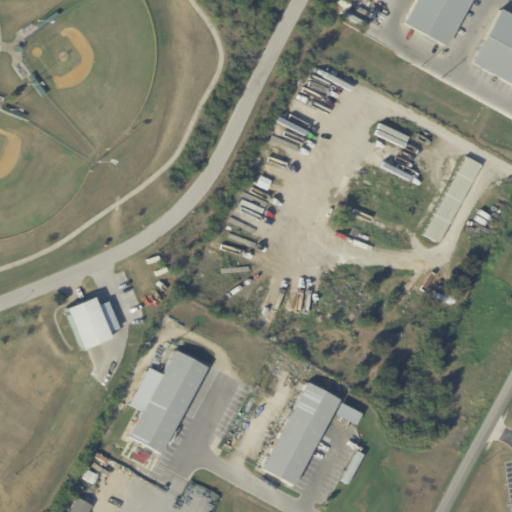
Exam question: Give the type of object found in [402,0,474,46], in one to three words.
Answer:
building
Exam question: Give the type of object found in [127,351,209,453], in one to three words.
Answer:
building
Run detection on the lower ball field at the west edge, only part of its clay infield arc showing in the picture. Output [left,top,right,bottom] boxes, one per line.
[0,119,90,238]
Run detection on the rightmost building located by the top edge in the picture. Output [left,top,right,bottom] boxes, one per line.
[470,10,512,86]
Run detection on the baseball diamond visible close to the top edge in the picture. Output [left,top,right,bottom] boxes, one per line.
[22,0,156,154]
